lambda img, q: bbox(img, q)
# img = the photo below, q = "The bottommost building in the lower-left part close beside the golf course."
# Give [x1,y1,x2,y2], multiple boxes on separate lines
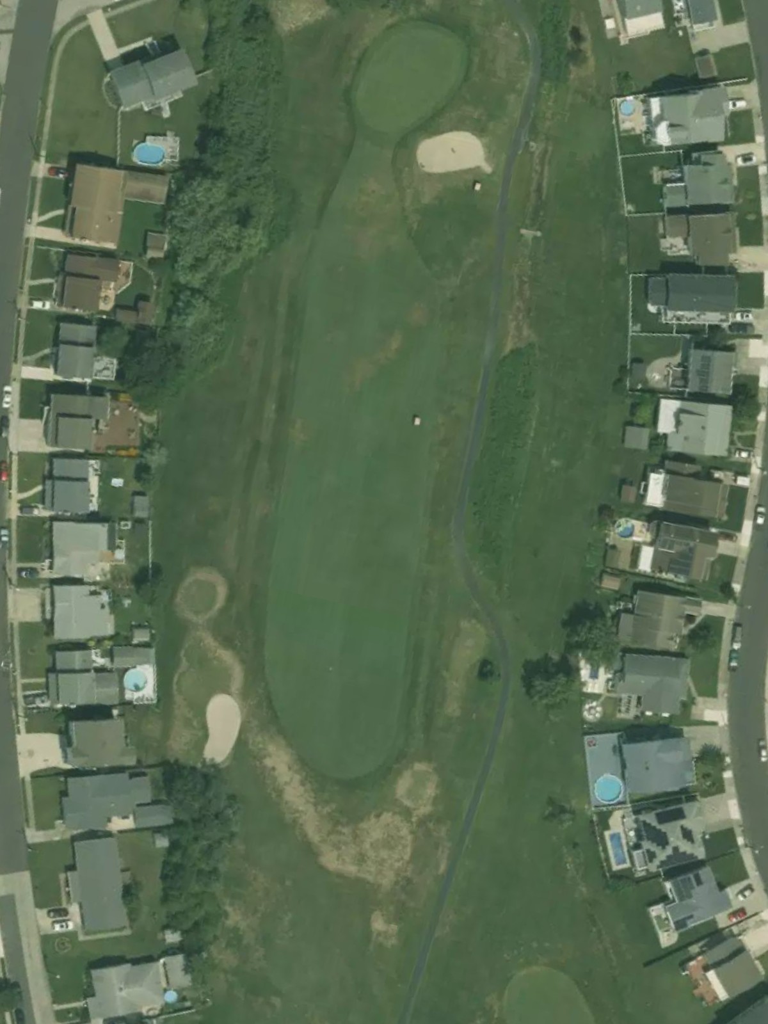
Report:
[89,954,191,1019]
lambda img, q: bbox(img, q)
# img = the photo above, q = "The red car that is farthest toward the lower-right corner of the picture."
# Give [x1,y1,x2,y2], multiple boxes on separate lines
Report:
[727,908,748,922]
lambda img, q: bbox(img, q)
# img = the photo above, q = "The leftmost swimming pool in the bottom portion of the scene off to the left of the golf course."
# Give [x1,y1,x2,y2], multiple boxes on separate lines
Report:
[123,669,147,692]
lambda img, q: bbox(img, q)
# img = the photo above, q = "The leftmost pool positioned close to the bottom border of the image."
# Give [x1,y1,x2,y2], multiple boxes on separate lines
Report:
[164,990,178,1004]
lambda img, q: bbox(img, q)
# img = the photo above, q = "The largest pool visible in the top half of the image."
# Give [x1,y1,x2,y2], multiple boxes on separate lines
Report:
[134,142,165,165]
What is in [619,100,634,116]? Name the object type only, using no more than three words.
swimming pool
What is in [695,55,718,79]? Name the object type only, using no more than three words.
shed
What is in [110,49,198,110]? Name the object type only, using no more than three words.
house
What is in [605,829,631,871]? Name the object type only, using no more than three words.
swimming pool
